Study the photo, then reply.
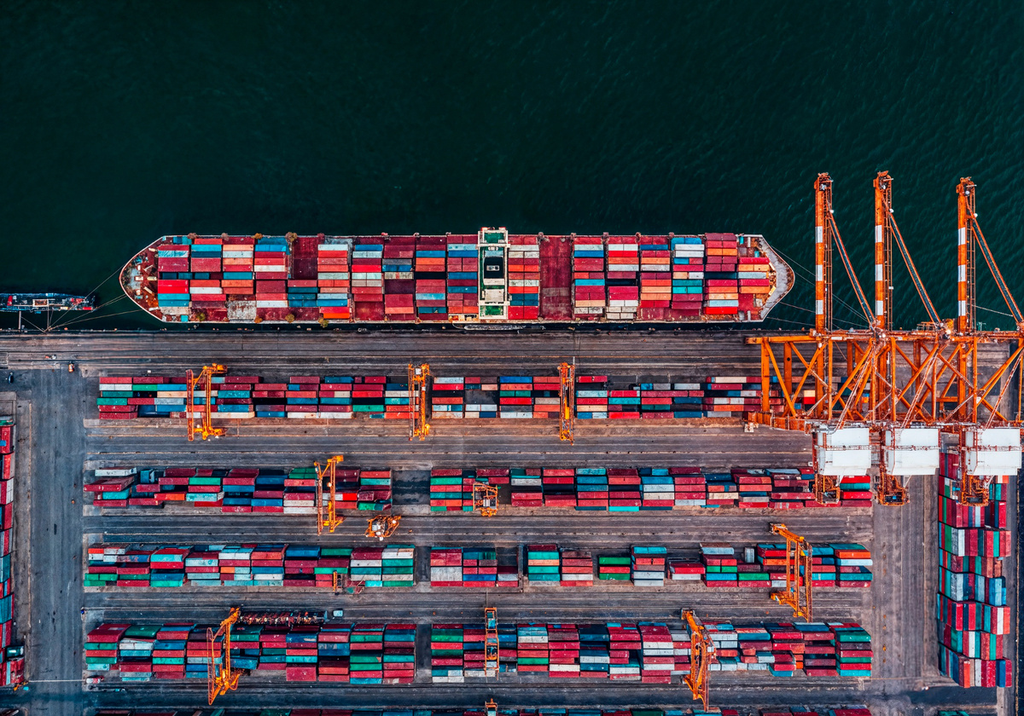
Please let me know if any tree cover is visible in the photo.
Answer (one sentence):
No, no tree cover is visible.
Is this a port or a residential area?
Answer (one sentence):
It's a port.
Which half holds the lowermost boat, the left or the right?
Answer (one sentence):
You can find the lowermost boat on the left side of the picture.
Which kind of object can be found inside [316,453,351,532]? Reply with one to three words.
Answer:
crane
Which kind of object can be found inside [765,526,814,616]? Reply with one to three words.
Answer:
crane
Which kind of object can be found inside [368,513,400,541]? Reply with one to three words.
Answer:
work vehicle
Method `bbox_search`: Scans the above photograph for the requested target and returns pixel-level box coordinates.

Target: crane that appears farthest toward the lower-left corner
[204,611,253,707]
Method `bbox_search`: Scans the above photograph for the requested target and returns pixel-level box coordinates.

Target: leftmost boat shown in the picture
[0,293,98,330]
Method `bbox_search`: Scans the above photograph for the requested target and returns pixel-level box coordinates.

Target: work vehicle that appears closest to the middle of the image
[473,476,500,514]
